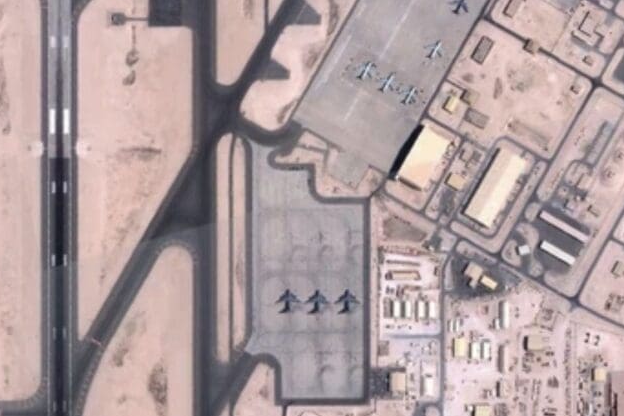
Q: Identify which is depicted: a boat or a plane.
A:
plane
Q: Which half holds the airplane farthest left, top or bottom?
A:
bottom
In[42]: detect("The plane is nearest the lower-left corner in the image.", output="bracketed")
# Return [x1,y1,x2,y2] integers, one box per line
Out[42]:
[277,289,301,315]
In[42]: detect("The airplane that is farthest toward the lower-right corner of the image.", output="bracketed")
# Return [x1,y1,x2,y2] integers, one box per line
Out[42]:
[336,289,361,315]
